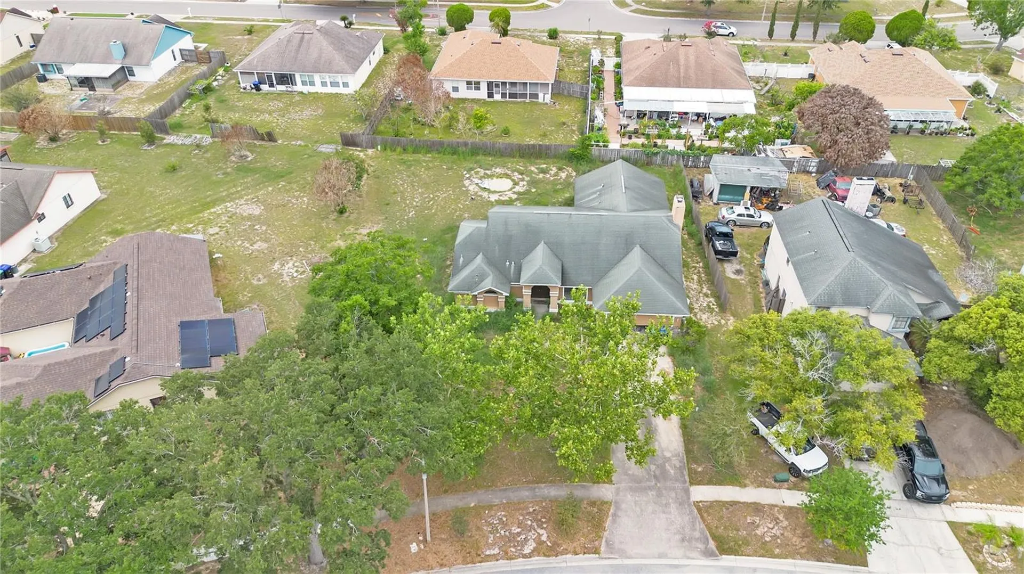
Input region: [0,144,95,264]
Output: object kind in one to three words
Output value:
house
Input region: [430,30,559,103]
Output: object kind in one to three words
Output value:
house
